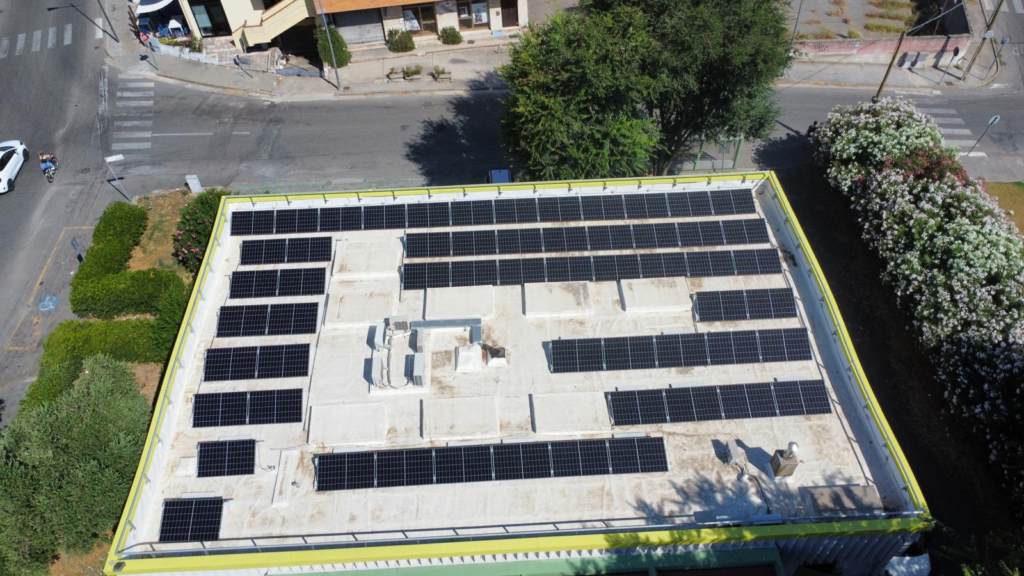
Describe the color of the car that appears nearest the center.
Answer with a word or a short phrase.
black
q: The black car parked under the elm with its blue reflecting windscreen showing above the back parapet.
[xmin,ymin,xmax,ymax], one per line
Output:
[485,152,517,184]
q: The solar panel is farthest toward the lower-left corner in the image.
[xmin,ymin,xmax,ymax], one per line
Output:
[158,496,230,543]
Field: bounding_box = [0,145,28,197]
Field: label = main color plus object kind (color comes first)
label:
white car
